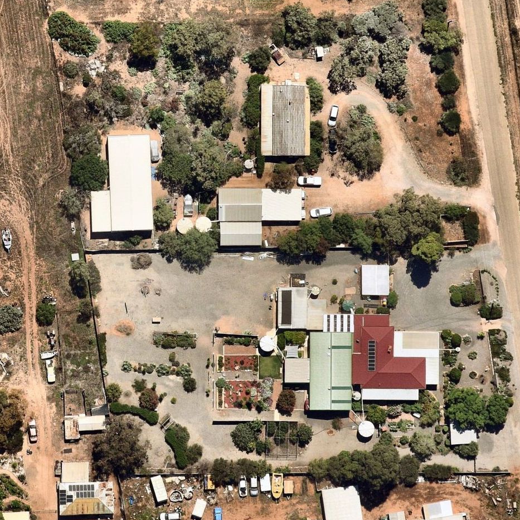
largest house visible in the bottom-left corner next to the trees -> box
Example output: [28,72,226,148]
[57,481,113,516]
